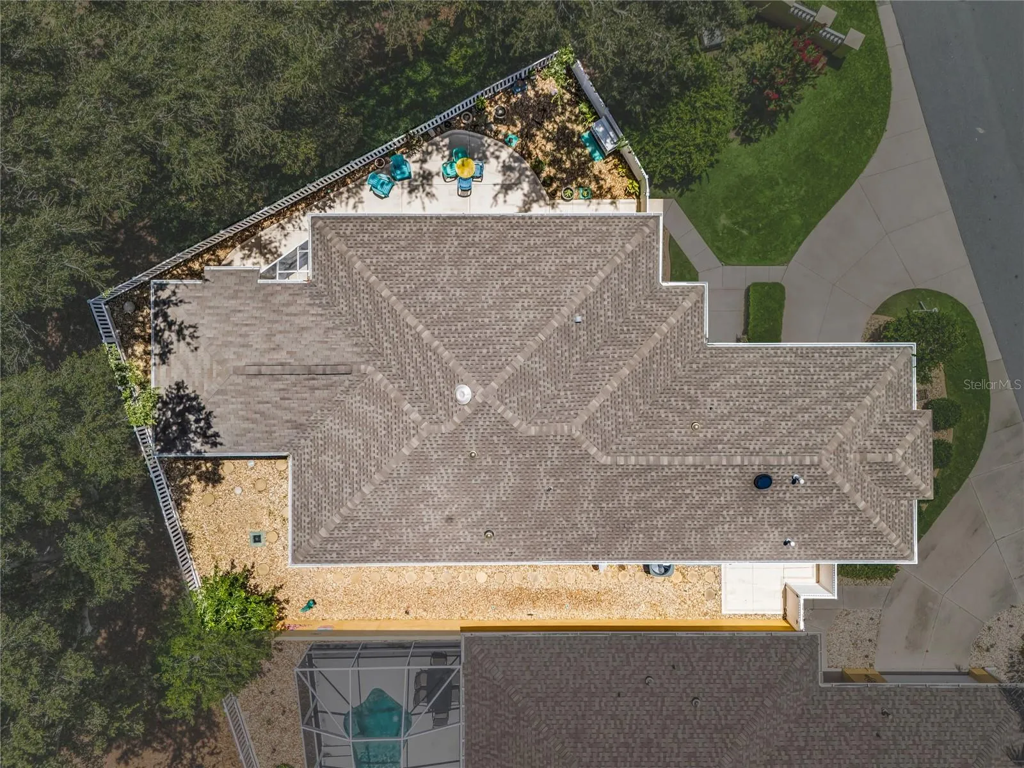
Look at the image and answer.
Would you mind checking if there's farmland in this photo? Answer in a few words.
No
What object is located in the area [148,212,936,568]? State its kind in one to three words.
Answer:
house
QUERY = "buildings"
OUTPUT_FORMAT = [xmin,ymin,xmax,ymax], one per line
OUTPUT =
[148,212,936,568]
[458,620,1024,768]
